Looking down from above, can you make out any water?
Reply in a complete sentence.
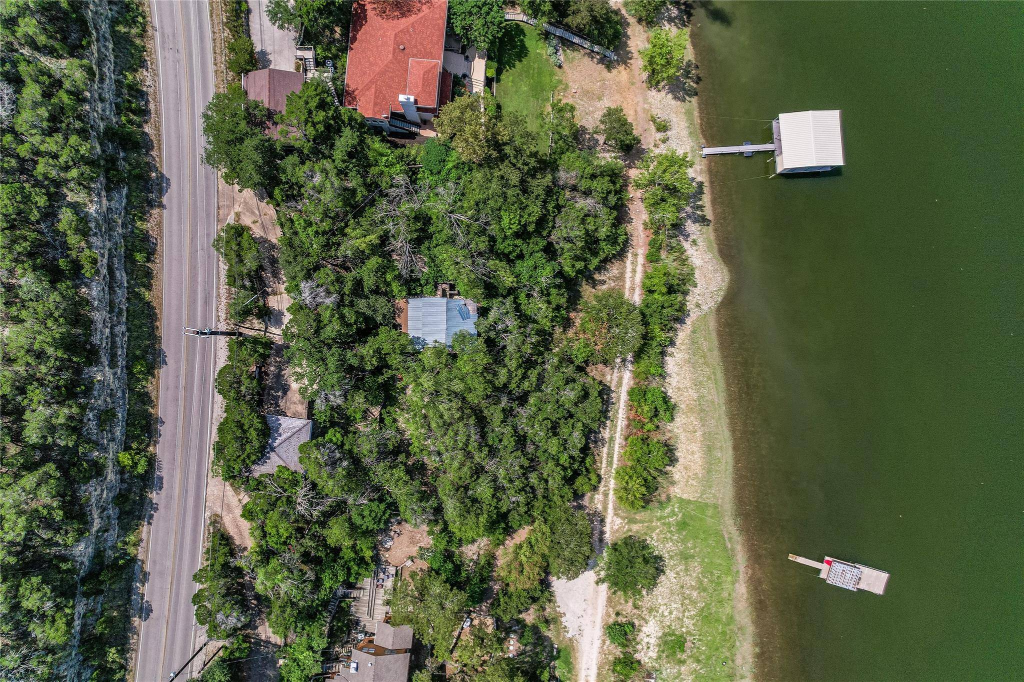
Yes, water can be seen from above here.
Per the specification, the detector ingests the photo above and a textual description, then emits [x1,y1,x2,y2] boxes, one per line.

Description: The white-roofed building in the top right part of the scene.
[772,110,847,176]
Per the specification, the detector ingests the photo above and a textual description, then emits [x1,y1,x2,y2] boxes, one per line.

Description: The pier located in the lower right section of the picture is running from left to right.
[788,554,891,595]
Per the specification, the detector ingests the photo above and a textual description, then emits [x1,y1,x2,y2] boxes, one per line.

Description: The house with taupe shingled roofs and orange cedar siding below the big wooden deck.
[330,612,415,682]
